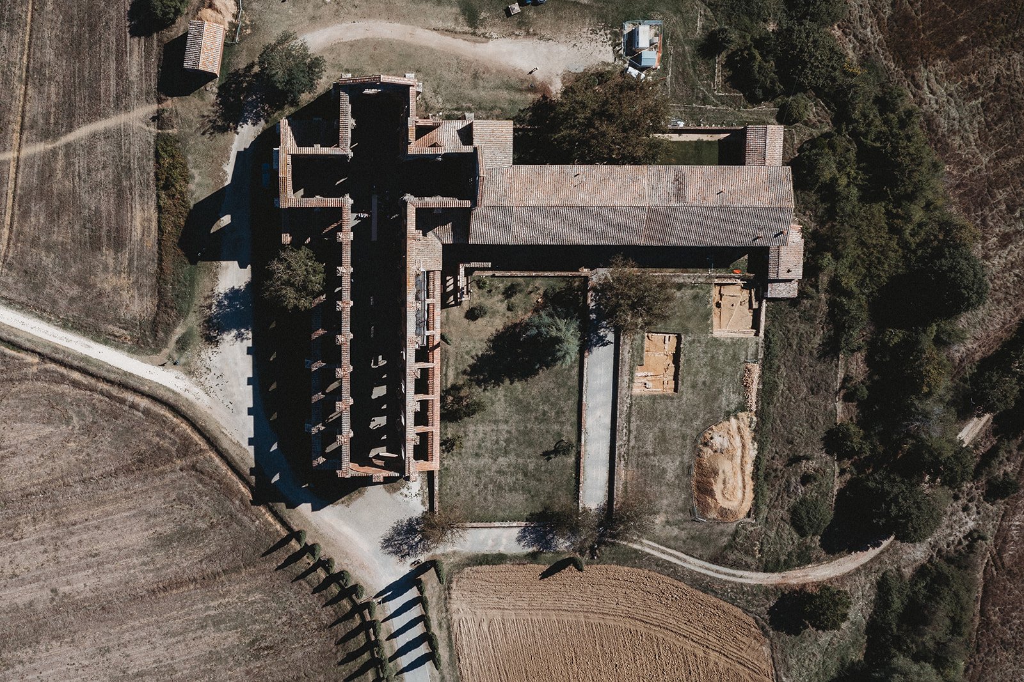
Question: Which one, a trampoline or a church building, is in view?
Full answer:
I can see a church building in this picture.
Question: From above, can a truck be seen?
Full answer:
No, the frame has no truck in it.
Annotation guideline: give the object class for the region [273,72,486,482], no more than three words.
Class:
church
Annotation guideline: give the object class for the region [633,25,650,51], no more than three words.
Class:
building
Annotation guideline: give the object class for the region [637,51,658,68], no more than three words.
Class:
shed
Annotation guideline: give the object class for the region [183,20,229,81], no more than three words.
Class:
barn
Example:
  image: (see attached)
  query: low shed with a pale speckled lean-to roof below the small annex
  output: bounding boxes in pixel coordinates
[759,279,798,297]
